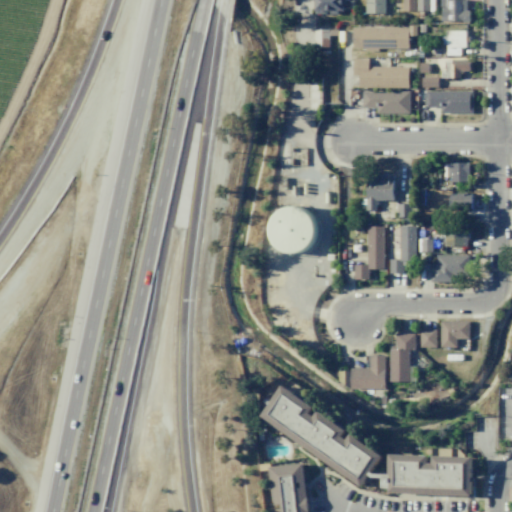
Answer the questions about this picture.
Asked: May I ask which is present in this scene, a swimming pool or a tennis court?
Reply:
swimming pool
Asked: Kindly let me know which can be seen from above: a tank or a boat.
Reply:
tank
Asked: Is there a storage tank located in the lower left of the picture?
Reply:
No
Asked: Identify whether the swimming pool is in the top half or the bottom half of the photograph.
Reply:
bottom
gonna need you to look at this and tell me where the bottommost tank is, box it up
[268,206,318,254]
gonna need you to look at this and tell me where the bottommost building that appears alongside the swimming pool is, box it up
[270,464,310,512]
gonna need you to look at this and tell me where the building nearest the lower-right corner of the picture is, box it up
[387,456,473,498]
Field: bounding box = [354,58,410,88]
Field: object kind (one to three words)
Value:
house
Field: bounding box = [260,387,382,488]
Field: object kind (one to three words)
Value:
building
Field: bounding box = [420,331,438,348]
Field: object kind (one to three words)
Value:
building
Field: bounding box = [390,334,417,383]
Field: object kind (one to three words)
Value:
house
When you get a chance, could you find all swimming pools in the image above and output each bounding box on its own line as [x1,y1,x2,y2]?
[266,437,294,462]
